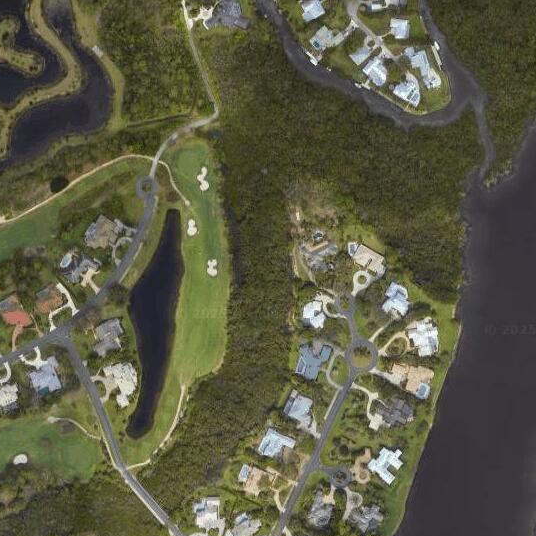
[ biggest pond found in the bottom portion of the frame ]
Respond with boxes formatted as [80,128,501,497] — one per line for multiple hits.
[127,209,184,438]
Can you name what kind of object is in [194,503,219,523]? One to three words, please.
house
